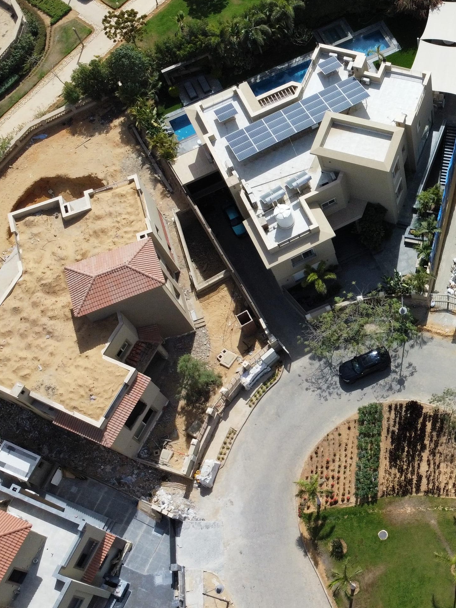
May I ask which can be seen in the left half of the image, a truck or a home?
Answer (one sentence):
What appears in the left half of the image is a home.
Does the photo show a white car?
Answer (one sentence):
No, no white car is visible in the scene.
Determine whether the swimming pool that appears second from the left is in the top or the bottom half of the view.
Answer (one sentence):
The swimming pool that appears second from the left is in the top half of the image.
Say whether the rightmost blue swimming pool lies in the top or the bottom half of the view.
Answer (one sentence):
The rightmost blue swimming pool is in the top half of the image.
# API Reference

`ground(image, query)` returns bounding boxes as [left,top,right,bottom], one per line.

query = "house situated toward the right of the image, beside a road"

[169,43,435,290]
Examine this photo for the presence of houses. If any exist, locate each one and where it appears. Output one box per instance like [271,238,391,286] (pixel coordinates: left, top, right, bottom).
[0,442,137,608]
[169,43,435,290]
[0,174,190,455]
